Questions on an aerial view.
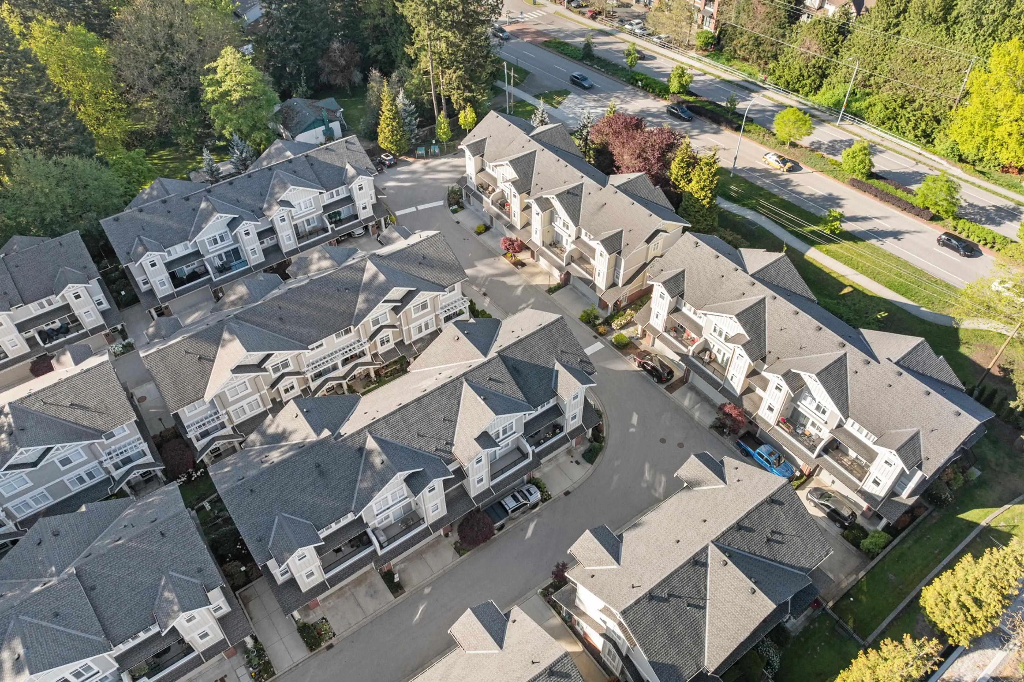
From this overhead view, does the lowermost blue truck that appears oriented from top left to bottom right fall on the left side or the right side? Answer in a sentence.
The lowermost blue truck that appears oriented from top left to bottom right appears in the right half of the scene.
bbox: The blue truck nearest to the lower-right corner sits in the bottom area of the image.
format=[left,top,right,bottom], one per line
[735,433,794,480]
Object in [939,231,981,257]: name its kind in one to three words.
car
